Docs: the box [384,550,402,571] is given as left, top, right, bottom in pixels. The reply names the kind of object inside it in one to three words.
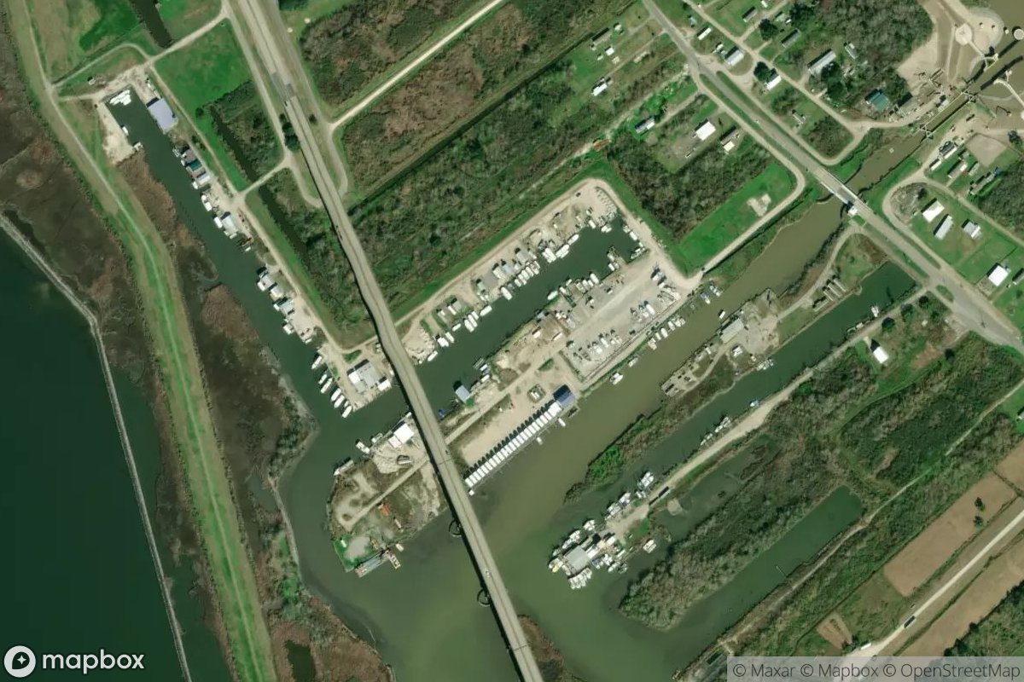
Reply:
ship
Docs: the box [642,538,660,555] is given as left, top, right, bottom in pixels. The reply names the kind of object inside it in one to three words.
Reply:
boat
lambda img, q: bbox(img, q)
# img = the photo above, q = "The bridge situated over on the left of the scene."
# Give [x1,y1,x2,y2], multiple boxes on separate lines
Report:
[274,77,543,682]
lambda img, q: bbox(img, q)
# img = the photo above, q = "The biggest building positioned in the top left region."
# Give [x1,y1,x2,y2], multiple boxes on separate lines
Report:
[149,100,176,129]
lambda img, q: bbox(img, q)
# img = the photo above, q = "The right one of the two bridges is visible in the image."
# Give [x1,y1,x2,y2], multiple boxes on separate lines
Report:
[817,168,869,208]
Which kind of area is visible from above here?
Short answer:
port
